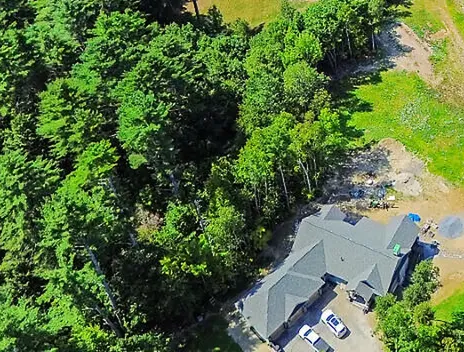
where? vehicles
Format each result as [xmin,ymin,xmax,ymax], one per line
[321,307,349,337]
[298,320,332,352]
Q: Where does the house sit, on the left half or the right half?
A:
right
